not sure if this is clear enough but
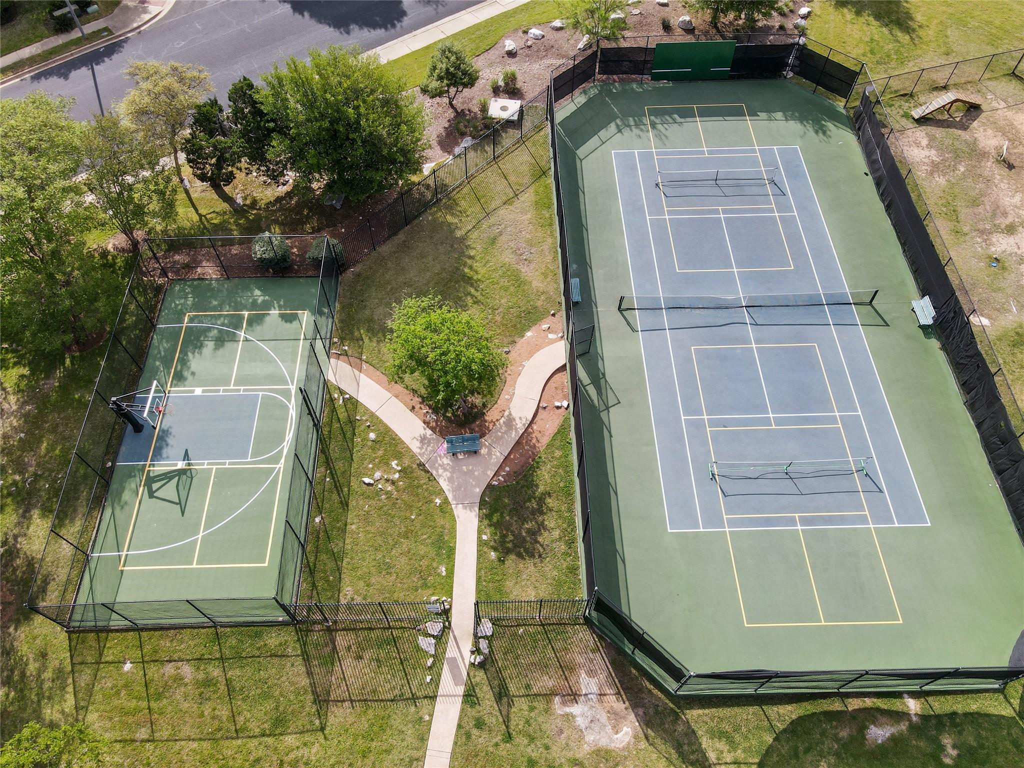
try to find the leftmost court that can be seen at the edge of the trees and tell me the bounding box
[67,274,343,632]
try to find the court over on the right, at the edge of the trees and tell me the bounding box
[545,77,1024,700]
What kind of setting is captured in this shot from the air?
sports ground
